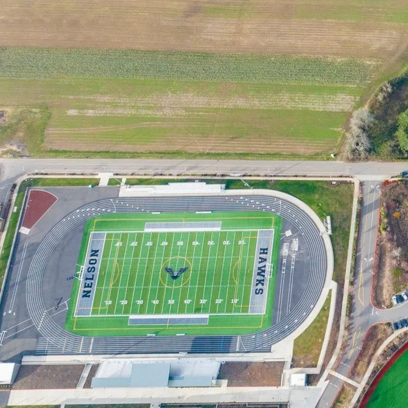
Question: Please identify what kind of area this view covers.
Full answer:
This image shows a sports ground.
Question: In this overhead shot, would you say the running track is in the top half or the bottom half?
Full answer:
The bottom half of the photo is where the running track is.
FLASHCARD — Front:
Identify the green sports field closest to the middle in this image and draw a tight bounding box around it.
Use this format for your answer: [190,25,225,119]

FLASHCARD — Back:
[65,211,283,336]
